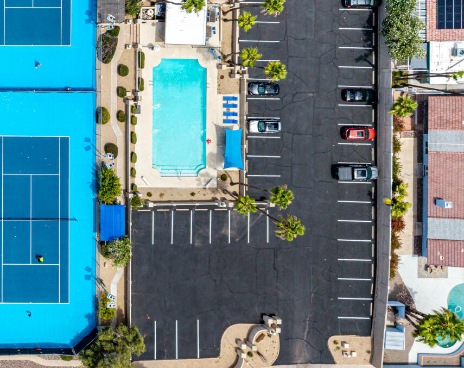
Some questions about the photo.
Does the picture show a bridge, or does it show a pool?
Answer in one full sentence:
There is a pool in the scene.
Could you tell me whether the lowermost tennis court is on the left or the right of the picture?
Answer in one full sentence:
The lowermost tennis court appears in the left half of the scene.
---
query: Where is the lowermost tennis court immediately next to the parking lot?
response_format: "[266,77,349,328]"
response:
[0,92,96,349]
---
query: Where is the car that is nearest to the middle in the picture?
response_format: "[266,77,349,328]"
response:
[249,118,284,135]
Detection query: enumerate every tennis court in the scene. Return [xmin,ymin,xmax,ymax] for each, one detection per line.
[0,92,96,349]
[0,0,97,91]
